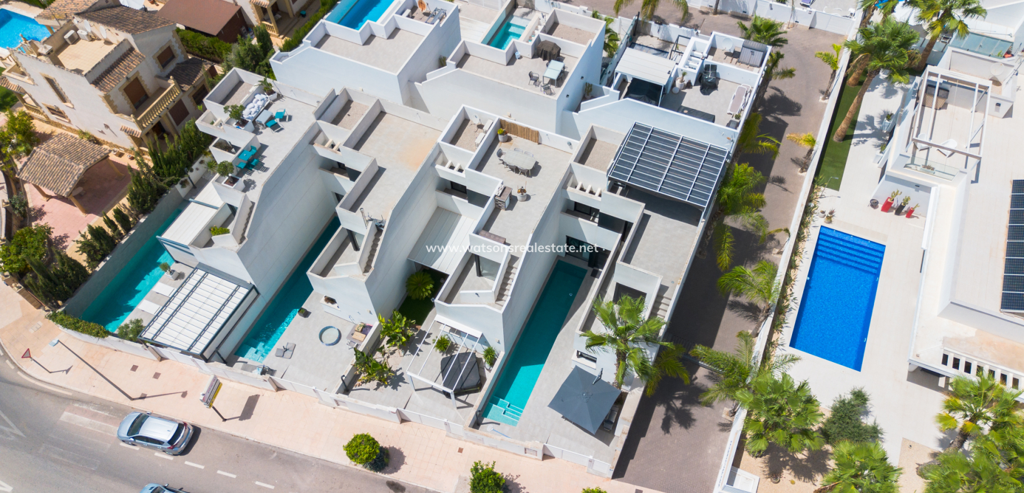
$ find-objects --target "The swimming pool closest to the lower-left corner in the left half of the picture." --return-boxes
[79,238,178,330]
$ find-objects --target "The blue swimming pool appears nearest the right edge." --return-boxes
[789,226,885,371]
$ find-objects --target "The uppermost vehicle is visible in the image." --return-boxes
[115,410,189,456]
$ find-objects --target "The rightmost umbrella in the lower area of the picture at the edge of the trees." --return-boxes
[548,366,621,435]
